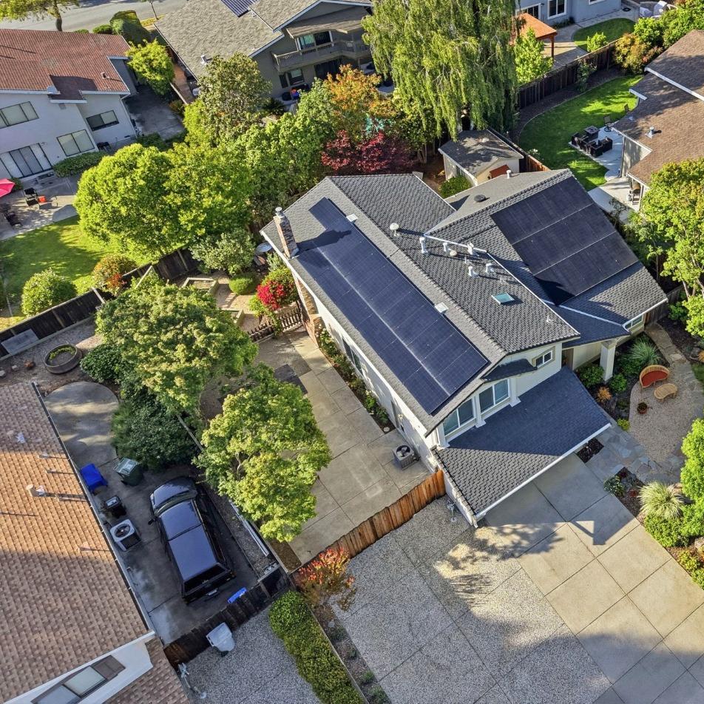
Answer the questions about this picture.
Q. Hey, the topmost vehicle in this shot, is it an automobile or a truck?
truck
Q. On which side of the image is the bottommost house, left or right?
left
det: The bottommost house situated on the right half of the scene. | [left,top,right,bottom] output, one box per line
[260,165,671,527]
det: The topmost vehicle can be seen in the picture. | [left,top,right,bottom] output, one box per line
[133,478,232,601]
